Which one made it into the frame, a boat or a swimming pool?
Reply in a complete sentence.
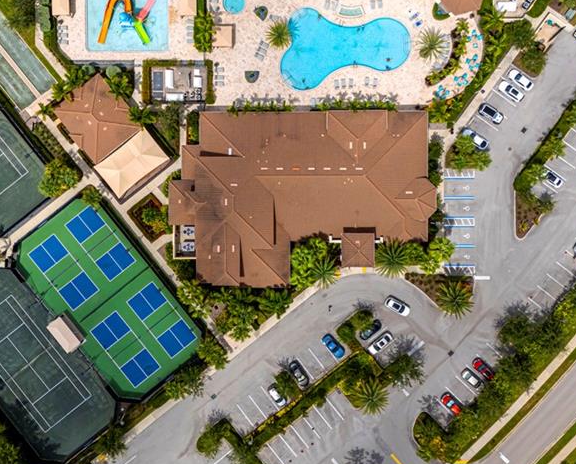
This aerial view contains a swimming pool.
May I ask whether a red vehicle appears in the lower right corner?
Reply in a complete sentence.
Yes, you'll find a red vehicle in the lower right corner.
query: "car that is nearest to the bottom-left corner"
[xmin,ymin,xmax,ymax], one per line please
[266,383,288,408]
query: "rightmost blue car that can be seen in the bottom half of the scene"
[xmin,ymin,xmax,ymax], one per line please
[322,333,345,358]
